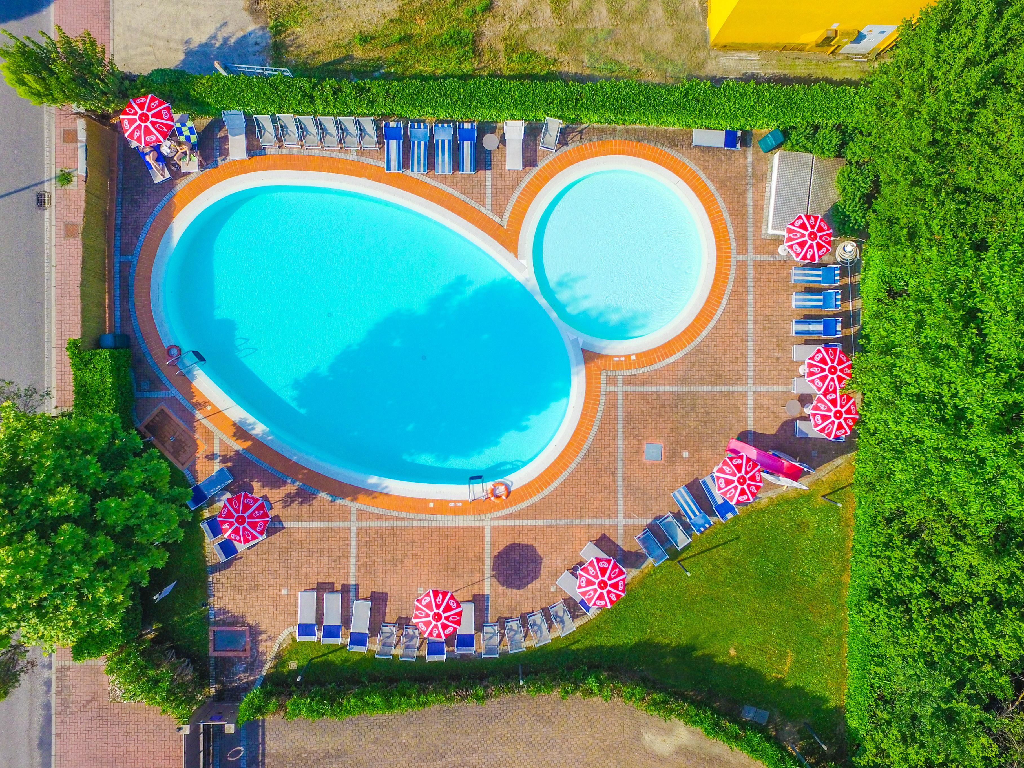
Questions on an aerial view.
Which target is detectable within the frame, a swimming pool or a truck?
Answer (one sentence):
Of the two, only a swimming pool appears.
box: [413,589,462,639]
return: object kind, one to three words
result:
umbrella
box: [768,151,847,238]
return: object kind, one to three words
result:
building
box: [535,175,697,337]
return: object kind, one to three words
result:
swimming pool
